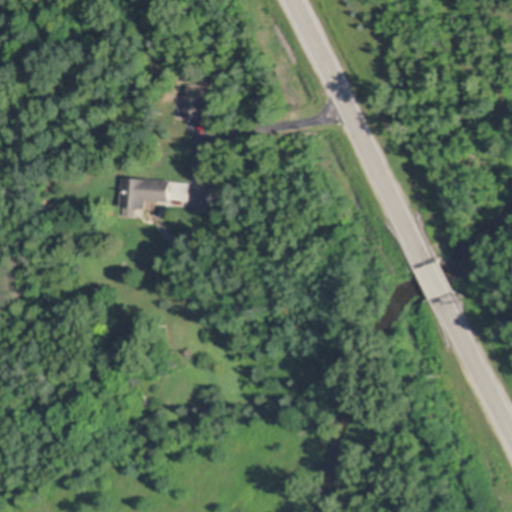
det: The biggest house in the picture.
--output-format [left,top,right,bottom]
[120,180,166,224]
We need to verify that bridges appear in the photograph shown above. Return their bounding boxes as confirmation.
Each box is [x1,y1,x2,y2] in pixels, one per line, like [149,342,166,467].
[410,248,458,314]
